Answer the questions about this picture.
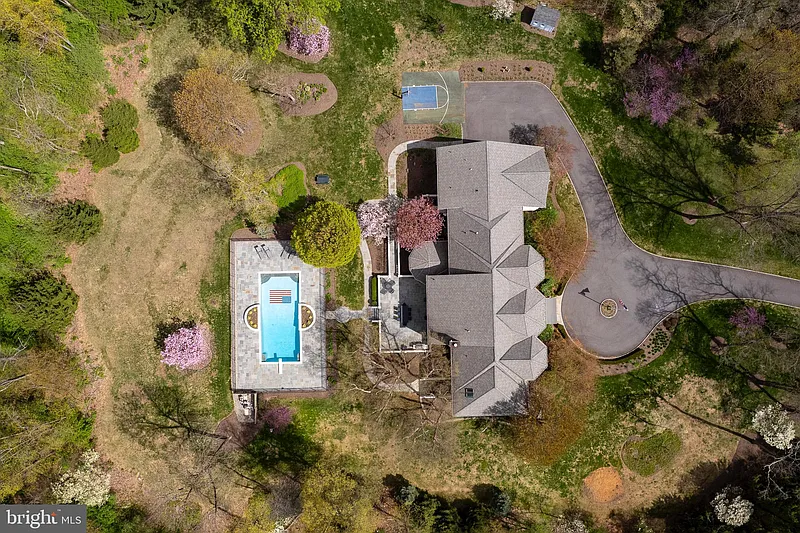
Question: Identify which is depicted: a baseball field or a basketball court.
basketball court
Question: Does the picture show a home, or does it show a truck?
home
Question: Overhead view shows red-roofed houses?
No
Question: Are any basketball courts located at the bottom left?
No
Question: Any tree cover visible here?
Yes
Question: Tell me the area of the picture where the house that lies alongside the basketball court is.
center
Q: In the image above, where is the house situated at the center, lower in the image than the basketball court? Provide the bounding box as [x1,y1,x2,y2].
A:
[409,140,555,417]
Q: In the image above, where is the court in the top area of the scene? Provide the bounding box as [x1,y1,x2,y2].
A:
[402,71,465,123]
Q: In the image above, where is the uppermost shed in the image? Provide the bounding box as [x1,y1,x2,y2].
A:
[530,6,560,33]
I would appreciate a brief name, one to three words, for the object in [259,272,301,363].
swimming pool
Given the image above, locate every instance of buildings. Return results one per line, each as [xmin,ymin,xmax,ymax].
[409,140,555,417]
[530,6,560,33]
